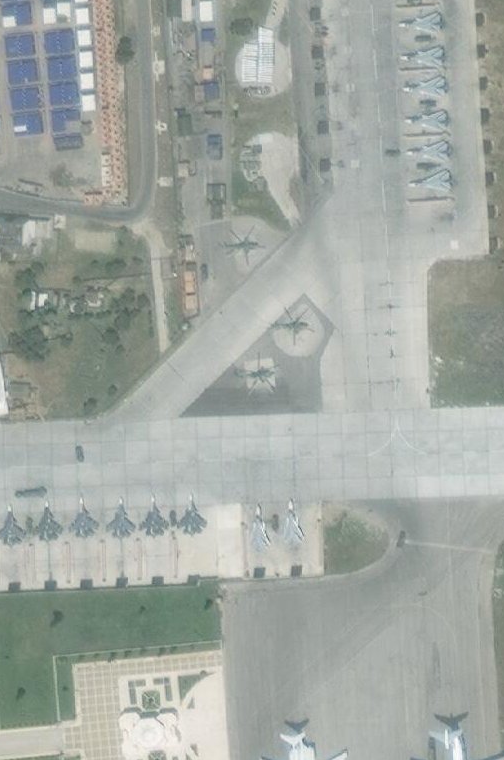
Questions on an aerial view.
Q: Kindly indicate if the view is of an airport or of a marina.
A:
airport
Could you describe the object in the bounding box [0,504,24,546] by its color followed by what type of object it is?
gray airplane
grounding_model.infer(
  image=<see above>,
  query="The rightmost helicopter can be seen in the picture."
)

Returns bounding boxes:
[267,307,313,344]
